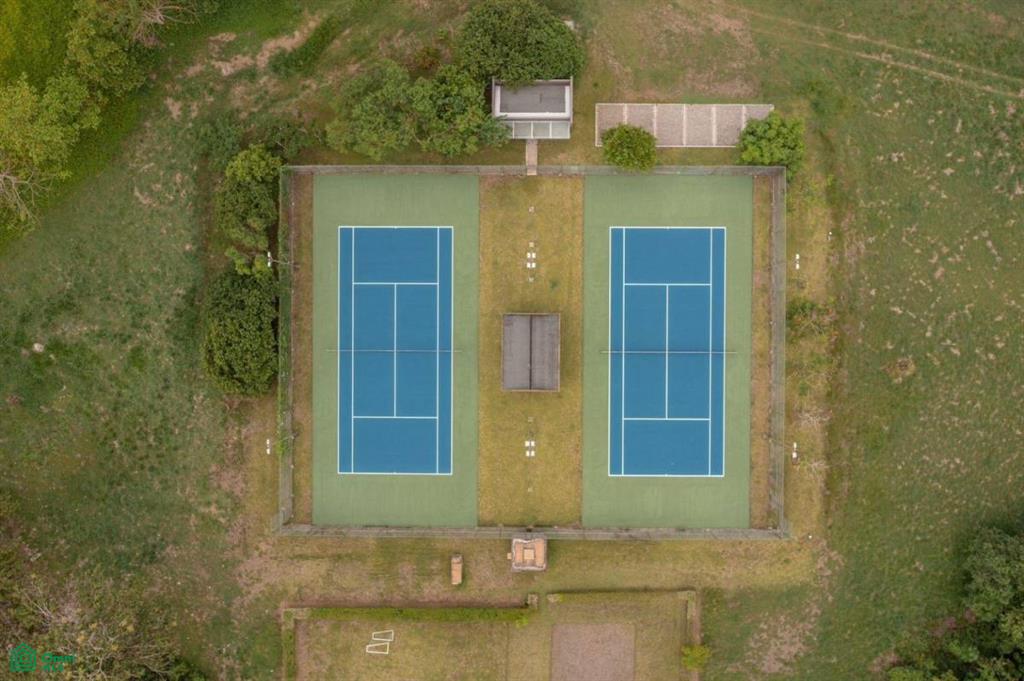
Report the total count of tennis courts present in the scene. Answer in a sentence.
There are 2 tennis courts in the image.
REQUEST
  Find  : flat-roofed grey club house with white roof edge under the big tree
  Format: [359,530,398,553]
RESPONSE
[492,76,572,139]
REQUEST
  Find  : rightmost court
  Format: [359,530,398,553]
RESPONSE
[582,174,753,528]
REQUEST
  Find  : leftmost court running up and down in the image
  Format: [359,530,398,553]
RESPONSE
[312,174,479,526]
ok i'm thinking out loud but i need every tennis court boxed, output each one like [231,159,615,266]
[582,174,753,528]
[312,174,479,526]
